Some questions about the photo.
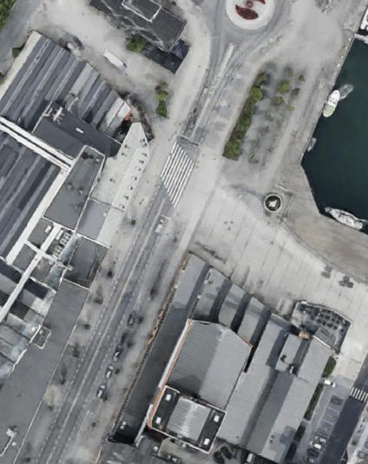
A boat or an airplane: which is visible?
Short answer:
boat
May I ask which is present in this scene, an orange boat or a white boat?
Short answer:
white boat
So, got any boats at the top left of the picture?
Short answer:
No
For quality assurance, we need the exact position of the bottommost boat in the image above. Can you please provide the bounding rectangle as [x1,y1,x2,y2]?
[326,207,365,230]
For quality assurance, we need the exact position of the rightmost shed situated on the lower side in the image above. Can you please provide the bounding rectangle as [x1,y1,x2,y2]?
[223,312,332,454]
